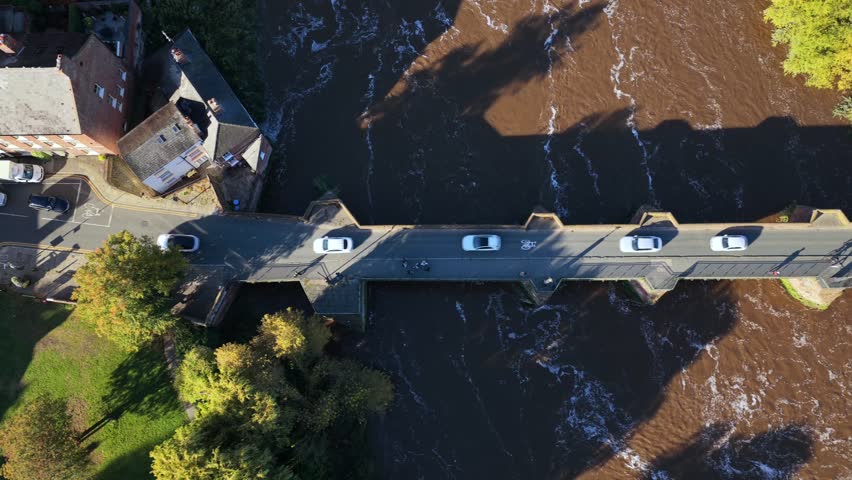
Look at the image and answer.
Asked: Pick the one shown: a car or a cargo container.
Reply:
car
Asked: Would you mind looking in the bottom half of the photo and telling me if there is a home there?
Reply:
No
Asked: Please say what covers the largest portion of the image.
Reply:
water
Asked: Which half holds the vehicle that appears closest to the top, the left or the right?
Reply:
left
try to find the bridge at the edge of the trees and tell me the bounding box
[220,195,852,329]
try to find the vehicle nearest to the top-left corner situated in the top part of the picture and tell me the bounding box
[0,159,44,183]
